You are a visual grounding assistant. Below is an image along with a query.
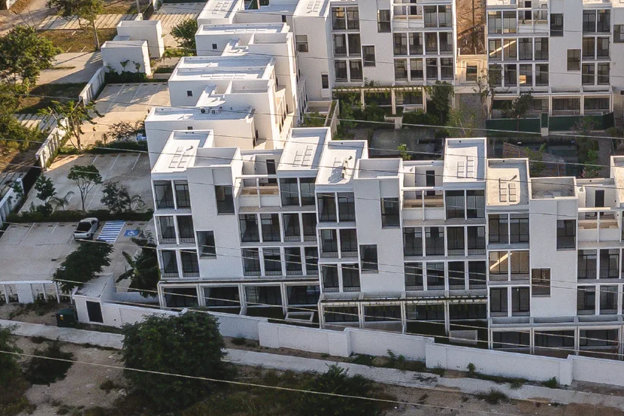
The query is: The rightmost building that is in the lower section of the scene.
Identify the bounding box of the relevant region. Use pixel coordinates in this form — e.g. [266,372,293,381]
[485,156,624,365]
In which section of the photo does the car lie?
left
